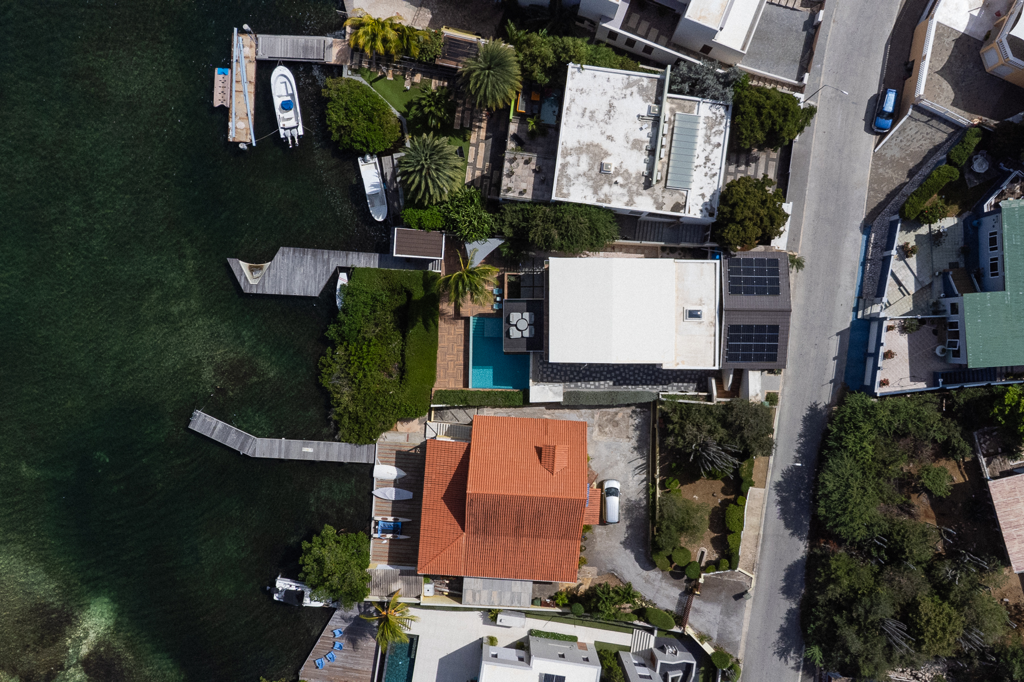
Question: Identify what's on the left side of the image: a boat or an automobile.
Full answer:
What appears on the left side of the image is a boat.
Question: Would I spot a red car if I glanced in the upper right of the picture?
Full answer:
No, I see no red car in the upper right of the picture.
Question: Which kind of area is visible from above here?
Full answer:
What you see here is a residential area.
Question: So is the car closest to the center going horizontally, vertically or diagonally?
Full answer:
The car closest to the center runs vertically in the image.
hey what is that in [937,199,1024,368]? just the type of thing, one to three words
house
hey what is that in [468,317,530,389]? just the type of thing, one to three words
swimming pool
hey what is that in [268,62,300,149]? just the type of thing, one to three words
boat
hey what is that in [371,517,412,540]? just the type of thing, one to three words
boat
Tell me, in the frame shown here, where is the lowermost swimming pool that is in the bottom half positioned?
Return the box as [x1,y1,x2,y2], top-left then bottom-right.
[386,634,420,682]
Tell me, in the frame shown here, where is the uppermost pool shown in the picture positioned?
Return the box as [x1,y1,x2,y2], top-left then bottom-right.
[540,93,559,126]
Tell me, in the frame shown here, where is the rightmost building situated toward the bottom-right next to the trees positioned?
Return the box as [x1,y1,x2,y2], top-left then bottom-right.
[977,467,1024,573]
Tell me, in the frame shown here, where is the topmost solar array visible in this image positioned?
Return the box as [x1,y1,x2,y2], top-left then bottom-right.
[727,258,781,295]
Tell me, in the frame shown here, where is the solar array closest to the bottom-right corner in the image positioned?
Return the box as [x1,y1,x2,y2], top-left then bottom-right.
[726,325,780,362]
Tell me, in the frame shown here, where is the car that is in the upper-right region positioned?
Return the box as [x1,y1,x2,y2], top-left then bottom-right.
[868,84,902,135]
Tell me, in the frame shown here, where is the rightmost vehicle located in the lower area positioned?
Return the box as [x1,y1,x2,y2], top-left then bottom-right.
[601,479,623,525]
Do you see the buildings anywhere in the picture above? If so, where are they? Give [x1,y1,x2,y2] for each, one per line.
[482,635,601,682]
[418,415,600,584]
[615,631,695,682]
[984,0,1024,81]
[544,257,720,369]
[937,199,1024,368]
[824,669,853,682]
[977,467,1024,573]
[575,0,767,84]
[392,227,446,261]
[551,63,732,226]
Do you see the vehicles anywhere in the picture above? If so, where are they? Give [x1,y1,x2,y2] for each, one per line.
[868,84,902,135]
[601,479,623,525]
